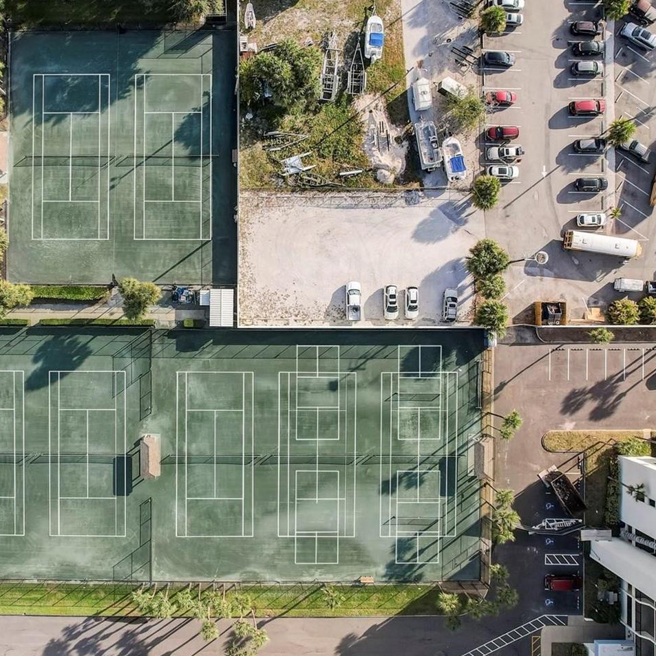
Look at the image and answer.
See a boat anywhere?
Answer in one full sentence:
Yes, the picture does show a boat.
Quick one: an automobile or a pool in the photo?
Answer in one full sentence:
It is an automobile that can be seen here.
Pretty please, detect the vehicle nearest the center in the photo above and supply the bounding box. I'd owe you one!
[345,281,361,320]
